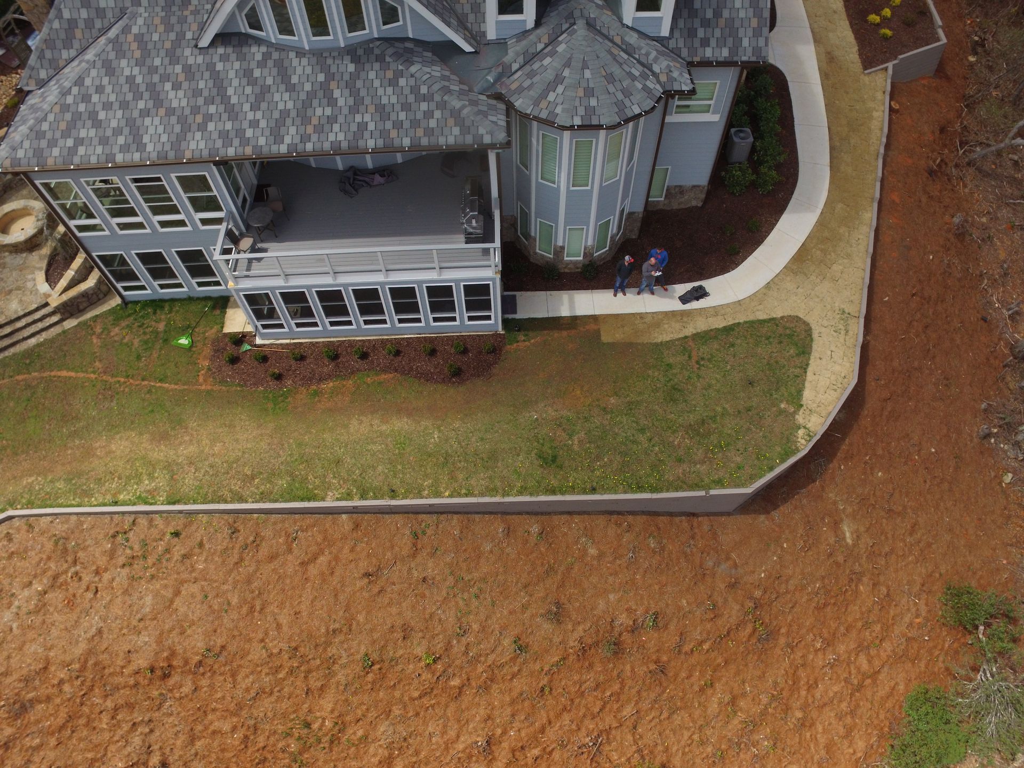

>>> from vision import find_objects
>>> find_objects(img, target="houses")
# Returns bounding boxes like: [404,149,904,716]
[0,0,773,343]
